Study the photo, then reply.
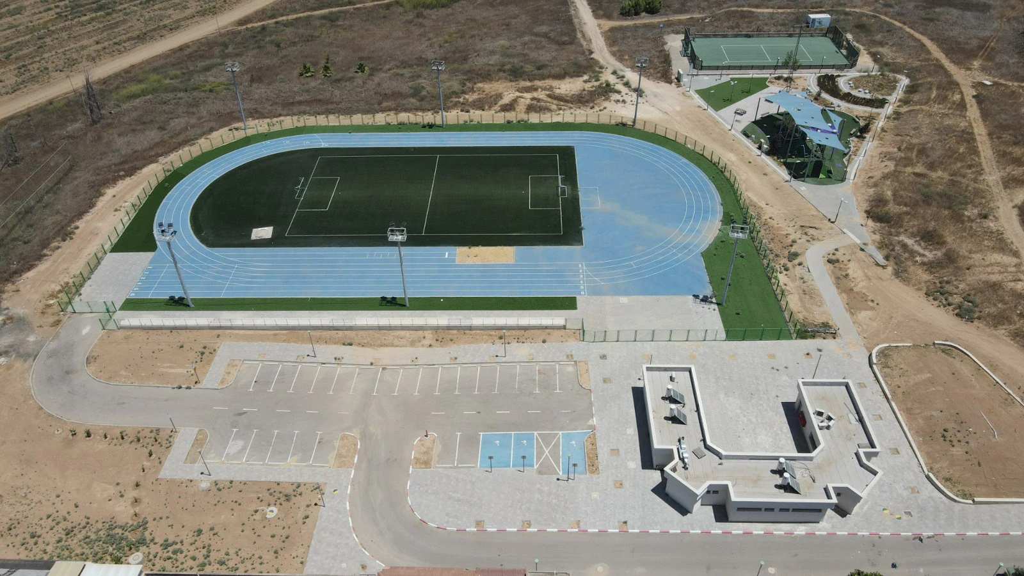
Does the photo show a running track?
Yes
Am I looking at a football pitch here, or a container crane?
football pitch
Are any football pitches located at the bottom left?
No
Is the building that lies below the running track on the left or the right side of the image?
right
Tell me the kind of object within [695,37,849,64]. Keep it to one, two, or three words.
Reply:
sports court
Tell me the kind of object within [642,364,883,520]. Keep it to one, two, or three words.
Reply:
building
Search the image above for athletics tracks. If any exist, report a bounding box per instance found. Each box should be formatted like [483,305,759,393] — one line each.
[128,131,721,298]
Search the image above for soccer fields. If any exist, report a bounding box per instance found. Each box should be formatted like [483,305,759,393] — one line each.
[188,146,583,247]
